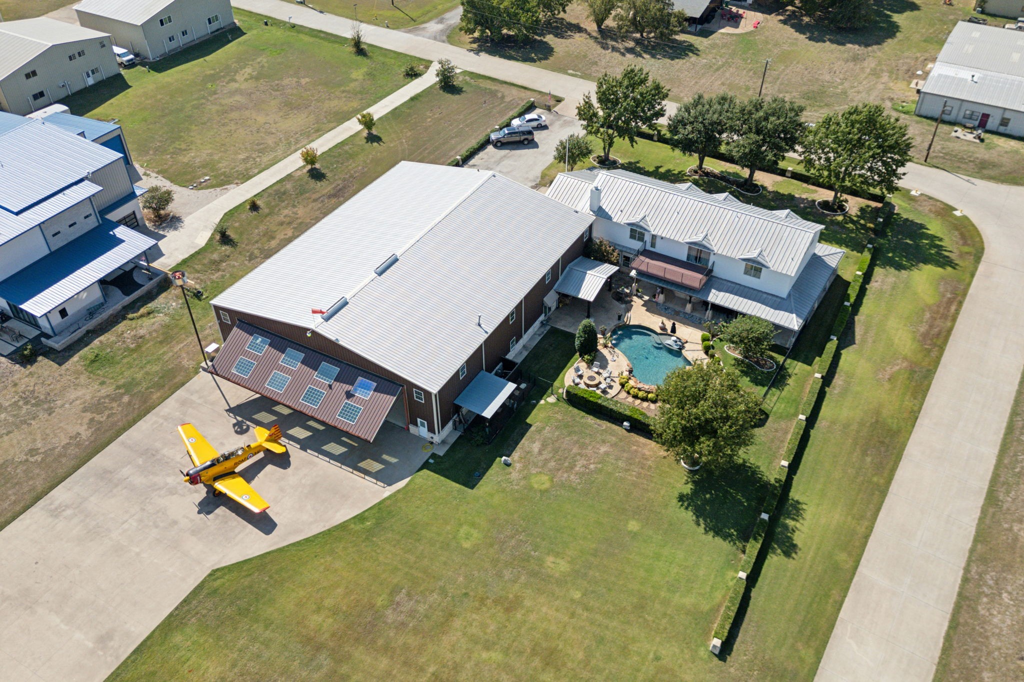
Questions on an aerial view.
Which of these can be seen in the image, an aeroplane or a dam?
aeroplane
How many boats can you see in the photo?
0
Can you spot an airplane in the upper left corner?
No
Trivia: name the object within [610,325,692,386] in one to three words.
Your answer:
swimming pool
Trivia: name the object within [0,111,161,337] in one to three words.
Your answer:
house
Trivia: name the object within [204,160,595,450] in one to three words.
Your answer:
hangar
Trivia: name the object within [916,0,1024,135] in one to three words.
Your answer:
barn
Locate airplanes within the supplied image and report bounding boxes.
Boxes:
[172,424,288,514]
